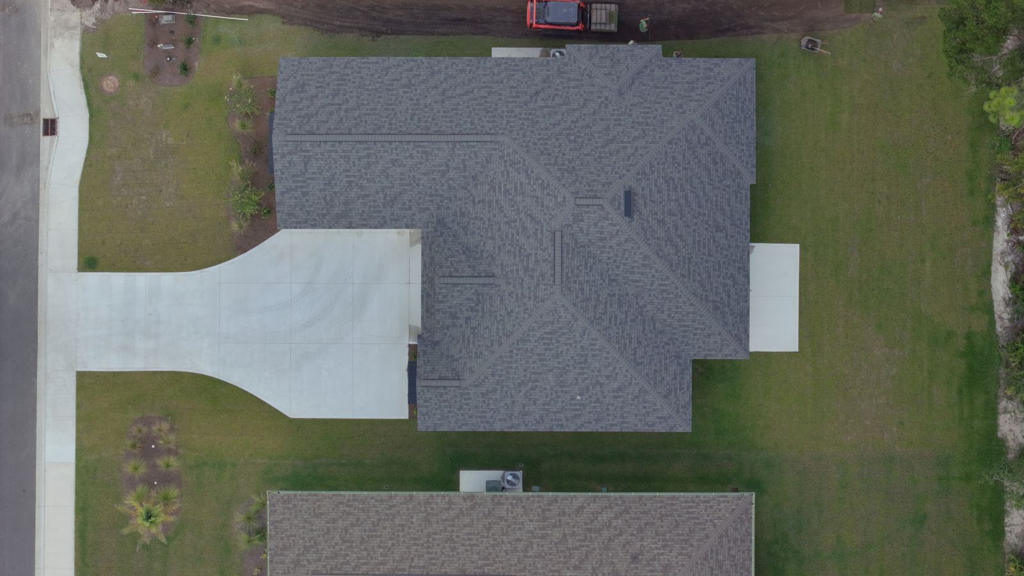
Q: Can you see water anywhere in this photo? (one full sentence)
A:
No, the picture contains no water.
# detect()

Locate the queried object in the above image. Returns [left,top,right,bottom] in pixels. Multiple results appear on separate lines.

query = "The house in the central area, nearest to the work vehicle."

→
[270,44,756,431]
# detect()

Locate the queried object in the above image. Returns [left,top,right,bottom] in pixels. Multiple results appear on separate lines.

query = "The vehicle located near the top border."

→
[526,0,592,39]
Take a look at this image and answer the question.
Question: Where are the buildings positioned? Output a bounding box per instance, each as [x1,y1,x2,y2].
[270,44,756,431]
[268,490,755,576]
